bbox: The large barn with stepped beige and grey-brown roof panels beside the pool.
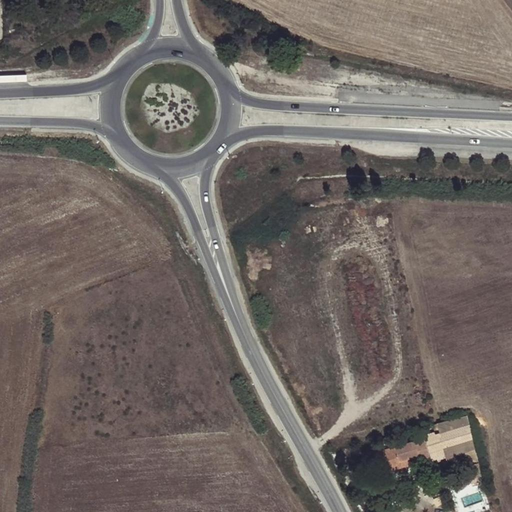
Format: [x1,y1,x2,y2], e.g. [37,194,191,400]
[428,416,479,464]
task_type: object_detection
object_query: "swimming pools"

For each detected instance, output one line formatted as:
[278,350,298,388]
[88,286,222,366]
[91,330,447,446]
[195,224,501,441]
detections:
[460,492,483,508]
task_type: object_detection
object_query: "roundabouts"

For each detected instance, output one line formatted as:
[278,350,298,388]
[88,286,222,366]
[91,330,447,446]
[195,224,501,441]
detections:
[100,38,240,178]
